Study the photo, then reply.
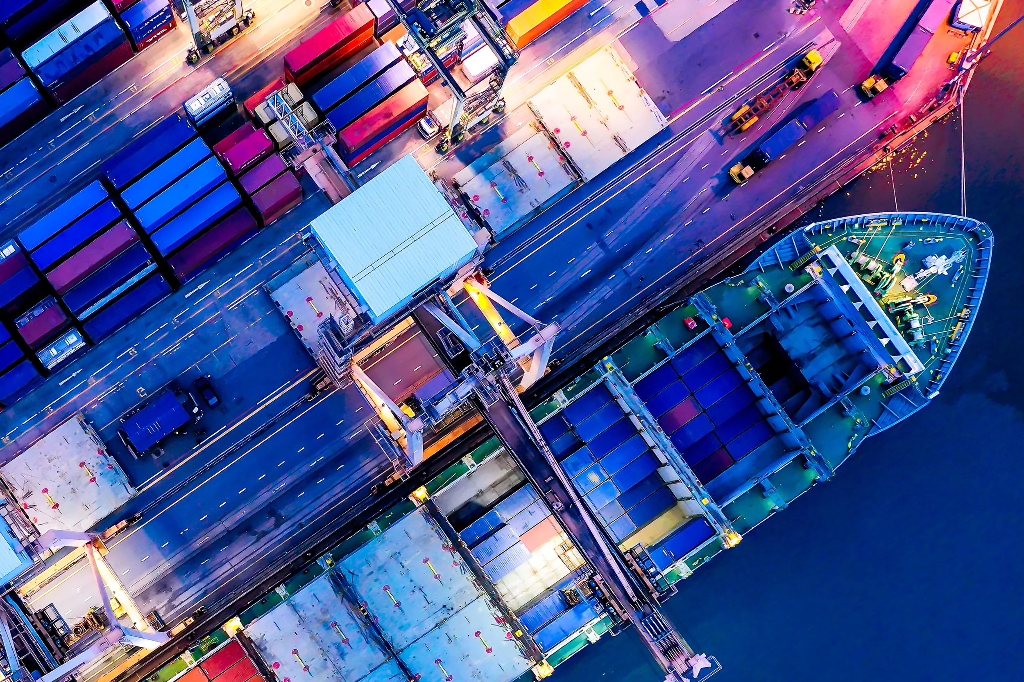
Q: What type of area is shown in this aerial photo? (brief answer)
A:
port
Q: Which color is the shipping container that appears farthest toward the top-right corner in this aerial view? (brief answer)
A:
purple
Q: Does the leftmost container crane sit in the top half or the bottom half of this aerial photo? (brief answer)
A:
bottom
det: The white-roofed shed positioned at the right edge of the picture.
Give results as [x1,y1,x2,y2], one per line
[949,0,992,34]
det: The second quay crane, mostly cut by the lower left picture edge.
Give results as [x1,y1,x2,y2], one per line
[0,514,197,682]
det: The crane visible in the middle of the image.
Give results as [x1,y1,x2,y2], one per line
[259,67,728,682]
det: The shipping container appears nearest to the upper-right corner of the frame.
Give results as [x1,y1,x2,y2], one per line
[908,0,954,33]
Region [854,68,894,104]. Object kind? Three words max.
truck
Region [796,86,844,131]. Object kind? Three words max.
shipping container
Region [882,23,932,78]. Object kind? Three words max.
shipping container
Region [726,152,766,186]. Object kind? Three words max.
truck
